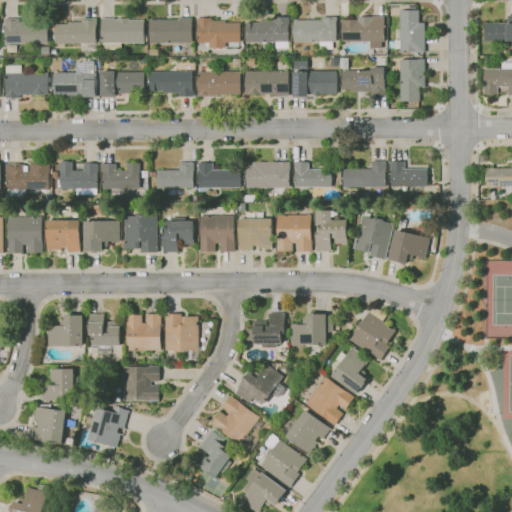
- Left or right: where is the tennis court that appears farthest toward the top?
right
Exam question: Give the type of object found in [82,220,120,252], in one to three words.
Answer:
house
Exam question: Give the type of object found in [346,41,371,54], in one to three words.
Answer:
swimming pool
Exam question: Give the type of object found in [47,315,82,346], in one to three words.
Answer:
house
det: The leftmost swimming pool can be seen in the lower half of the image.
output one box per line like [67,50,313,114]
[48,348,73,360]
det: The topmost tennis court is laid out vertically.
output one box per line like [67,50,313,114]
[486,260,512,338]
